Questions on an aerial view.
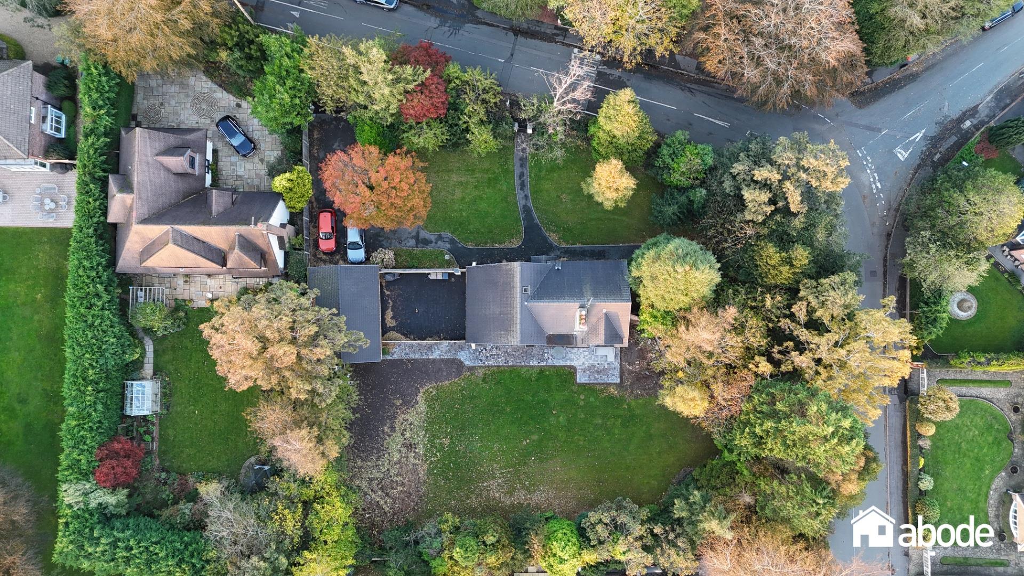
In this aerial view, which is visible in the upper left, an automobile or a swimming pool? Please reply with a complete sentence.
Visible in the upper left is an automobile.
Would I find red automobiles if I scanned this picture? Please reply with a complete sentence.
Yes, there's a red automobile down there.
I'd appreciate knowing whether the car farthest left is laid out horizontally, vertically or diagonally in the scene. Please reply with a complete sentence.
What the image shows is the car farthest left lying diagonally.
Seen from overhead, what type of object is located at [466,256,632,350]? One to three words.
house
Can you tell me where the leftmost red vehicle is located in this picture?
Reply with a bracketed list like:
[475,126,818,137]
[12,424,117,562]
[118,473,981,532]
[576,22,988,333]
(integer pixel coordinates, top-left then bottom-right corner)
[314,209,338,251]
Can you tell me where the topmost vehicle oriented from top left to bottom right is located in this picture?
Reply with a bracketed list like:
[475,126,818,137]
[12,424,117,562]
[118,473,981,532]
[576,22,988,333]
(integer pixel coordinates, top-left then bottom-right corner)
[213,112,258,160]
